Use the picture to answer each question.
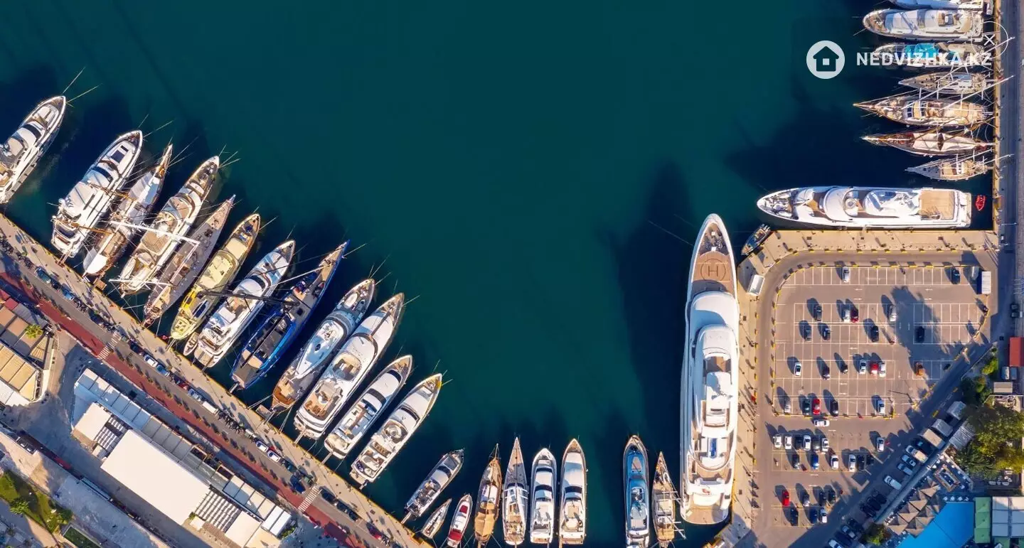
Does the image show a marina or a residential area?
marina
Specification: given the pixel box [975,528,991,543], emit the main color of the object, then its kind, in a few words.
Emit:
green umbrella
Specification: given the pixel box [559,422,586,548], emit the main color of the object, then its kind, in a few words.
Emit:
white boat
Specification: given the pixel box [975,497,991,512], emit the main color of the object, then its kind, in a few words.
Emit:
green umbrella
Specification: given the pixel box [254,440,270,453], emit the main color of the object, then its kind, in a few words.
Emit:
white vehicle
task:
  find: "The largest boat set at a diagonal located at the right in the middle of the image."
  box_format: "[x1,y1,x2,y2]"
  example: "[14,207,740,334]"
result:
[742,222,773,254]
